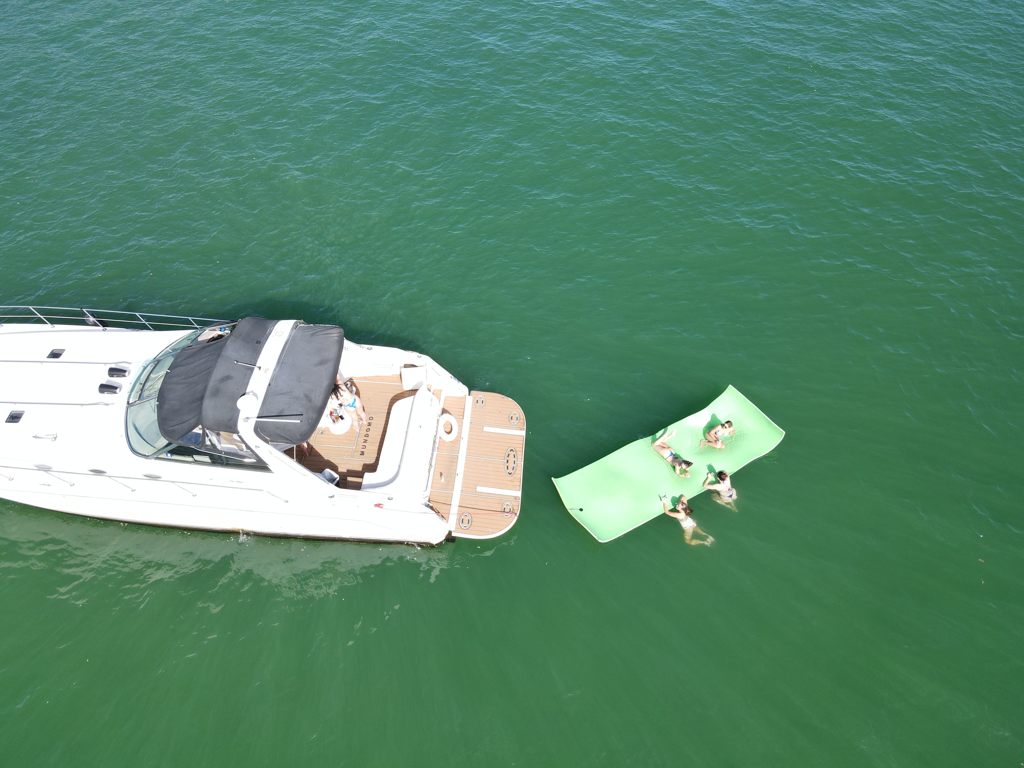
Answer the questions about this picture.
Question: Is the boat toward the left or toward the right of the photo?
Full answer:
It is on the left.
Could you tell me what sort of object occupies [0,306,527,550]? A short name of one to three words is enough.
boat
